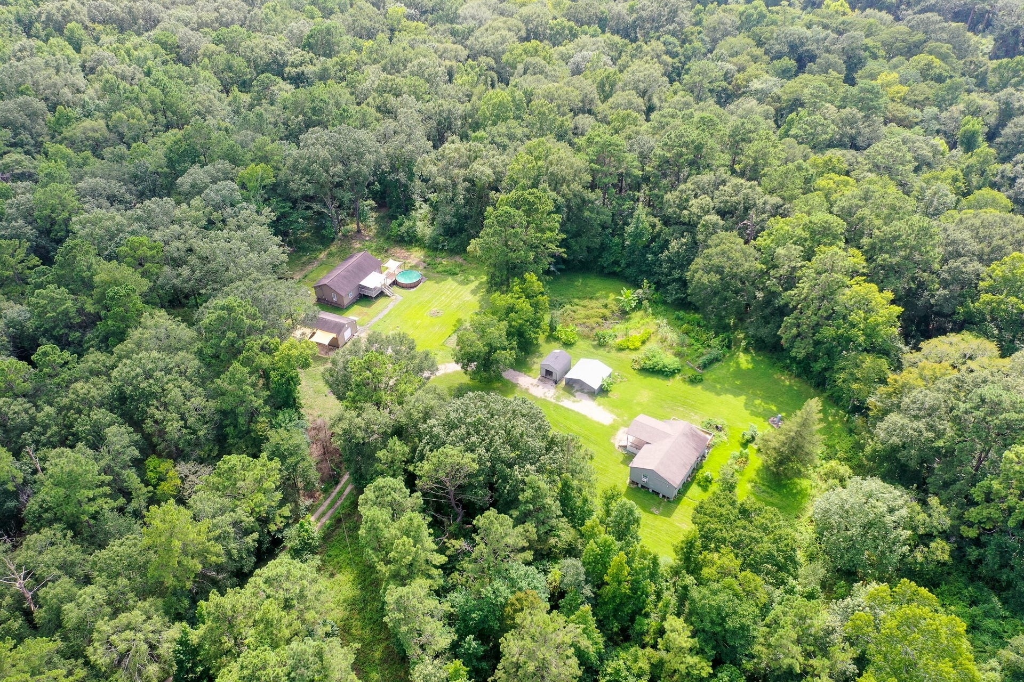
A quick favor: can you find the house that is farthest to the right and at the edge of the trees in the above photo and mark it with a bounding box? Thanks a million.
[617,414,714,499]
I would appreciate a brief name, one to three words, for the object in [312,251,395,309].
house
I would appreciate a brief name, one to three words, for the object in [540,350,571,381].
shed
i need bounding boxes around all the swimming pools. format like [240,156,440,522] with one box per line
[396,270,422,289]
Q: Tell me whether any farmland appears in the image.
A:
No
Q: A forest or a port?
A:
forest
